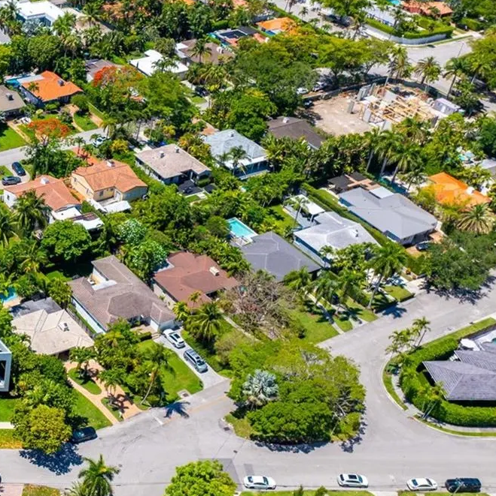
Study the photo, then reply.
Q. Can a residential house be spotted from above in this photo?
Yes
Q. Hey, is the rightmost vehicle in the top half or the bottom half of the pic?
bottom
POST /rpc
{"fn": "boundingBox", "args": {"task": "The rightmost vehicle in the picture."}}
[440,475,488,495]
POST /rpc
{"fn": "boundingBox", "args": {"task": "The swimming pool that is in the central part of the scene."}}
[224,213,262,242]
